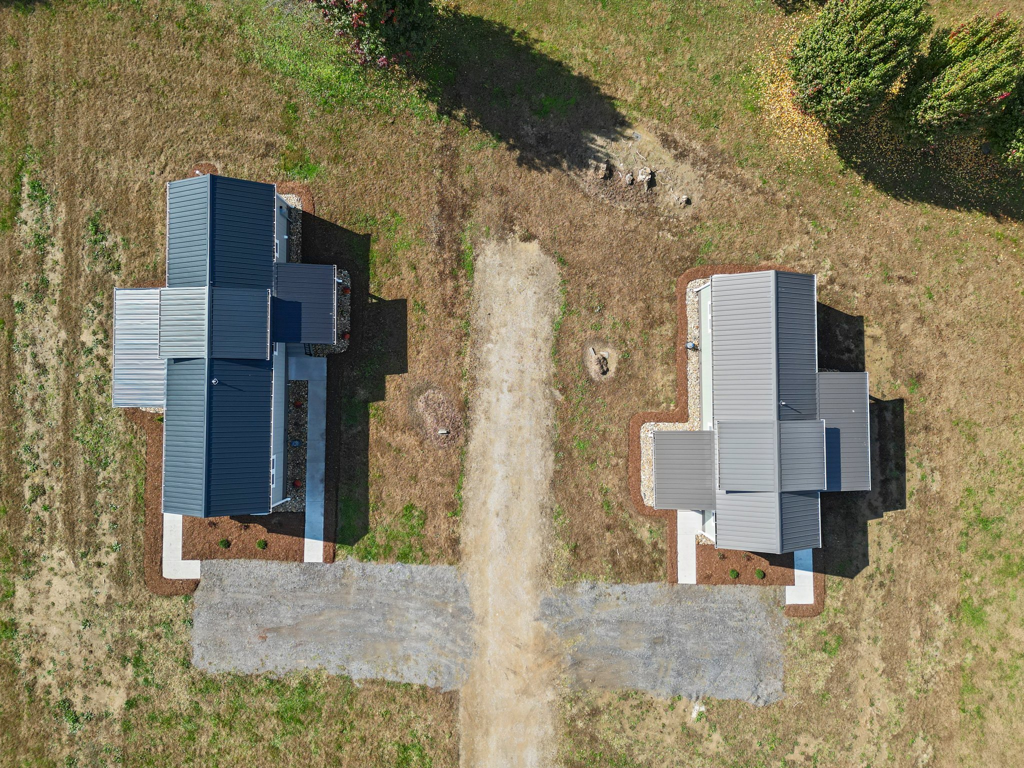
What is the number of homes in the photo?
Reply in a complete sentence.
There are 2 homes in the image.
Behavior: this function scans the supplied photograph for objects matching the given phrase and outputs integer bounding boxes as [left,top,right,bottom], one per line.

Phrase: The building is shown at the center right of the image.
[639,270,870,554]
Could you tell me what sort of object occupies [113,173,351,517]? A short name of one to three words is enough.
house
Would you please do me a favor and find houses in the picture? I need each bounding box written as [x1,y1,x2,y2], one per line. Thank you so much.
[639,270,870,554]
[113,173,351,517]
